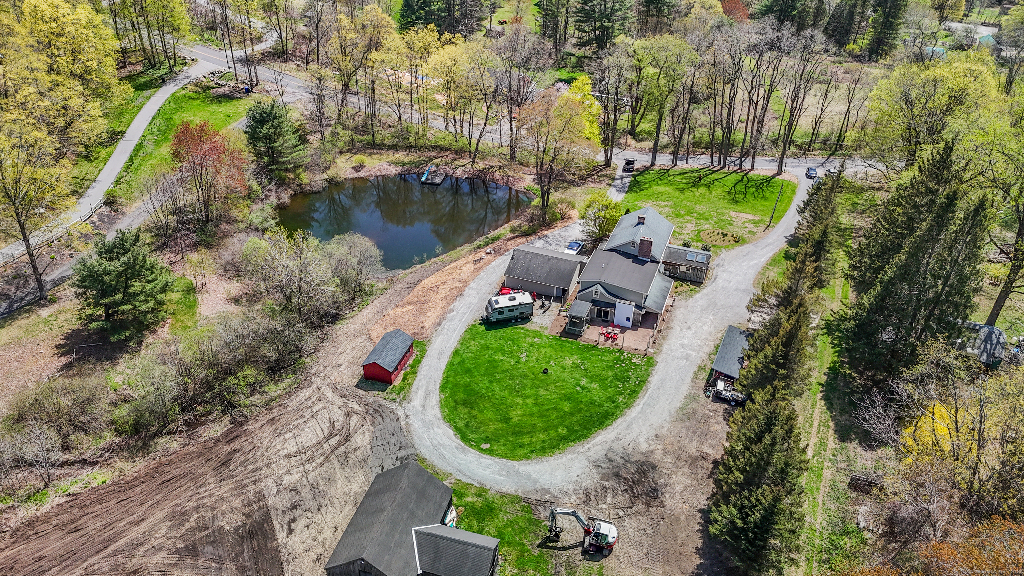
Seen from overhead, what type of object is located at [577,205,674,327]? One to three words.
house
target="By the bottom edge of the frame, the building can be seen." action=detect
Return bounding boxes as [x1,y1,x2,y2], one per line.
[325,461,501,576]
